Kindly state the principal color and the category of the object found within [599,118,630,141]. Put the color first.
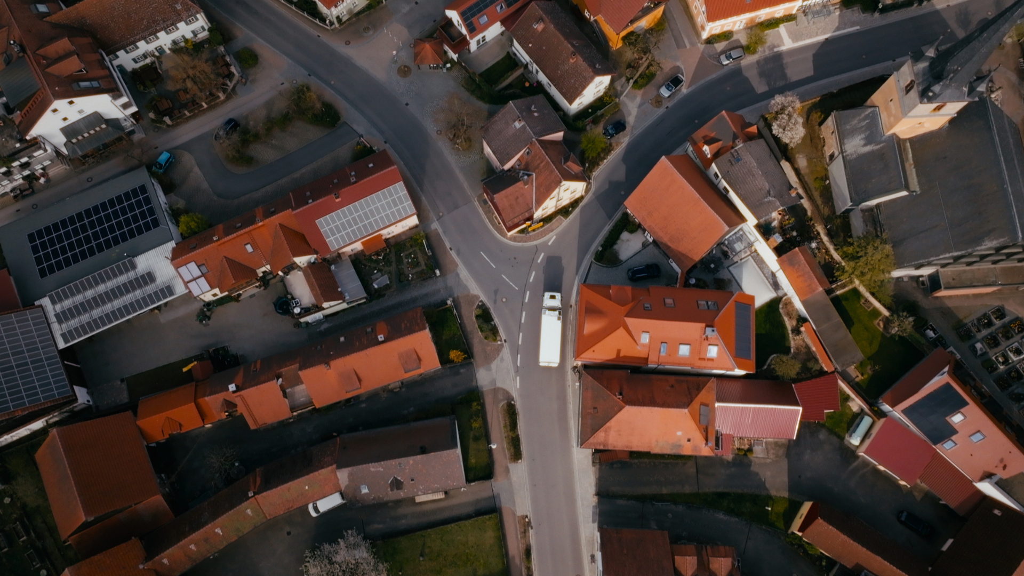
black car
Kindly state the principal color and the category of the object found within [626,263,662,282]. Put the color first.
black car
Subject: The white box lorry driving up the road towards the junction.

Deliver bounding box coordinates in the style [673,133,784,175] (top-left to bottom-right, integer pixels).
[539,293,564,370]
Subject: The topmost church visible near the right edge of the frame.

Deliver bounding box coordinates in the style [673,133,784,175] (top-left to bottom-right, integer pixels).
[817,4,1024,273]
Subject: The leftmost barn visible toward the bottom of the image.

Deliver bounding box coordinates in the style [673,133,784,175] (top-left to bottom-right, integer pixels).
[0,304,91,425]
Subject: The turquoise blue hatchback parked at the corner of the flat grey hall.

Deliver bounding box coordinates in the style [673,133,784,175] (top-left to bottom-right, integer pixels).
[150,148,177,174]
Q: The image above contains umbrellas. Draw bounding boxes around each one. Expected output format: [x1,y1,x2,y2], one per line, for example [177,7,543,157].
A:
[36,175,50,187]
[292,305,303,316]
[34,167,48,178]
[686,276,696,286]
